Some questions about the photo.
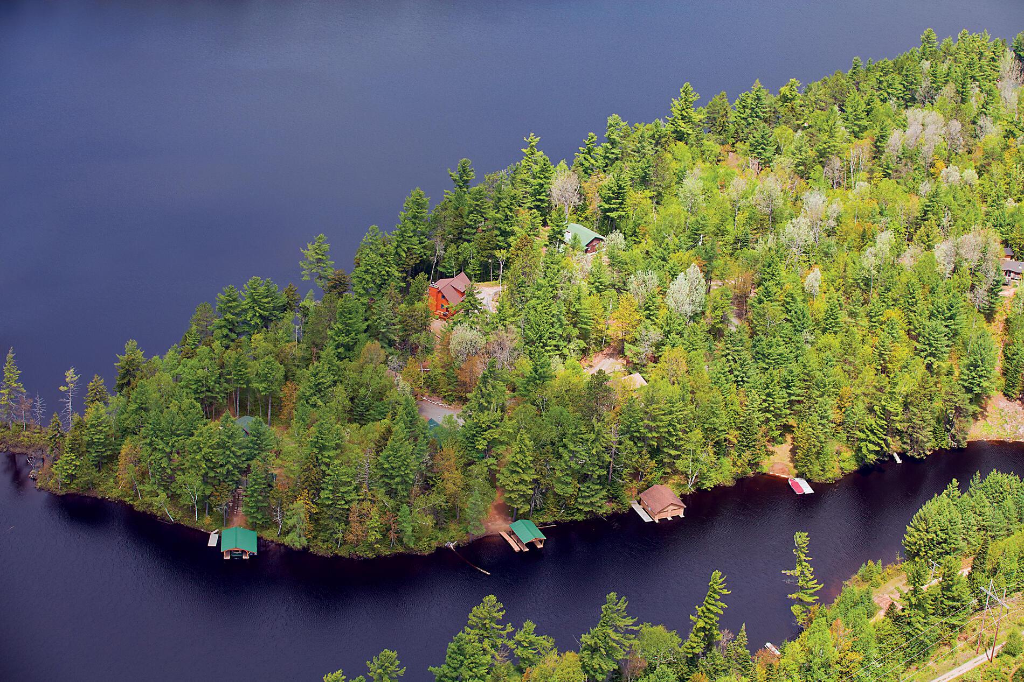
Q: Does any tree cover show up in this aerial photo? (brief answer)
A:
Yes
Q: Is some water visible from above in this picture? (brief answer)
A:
Yes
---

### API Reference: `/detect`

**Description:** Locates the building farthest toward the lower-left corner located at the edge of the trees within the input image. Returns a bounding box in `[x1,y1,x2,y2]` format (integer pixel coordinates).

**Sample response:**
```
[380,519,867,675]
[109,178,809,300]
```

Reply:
[221,525,261,561]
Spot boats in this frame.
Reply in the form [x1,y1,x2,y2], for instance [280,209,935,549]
[788,478,808,496]
[233,552,243,561]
